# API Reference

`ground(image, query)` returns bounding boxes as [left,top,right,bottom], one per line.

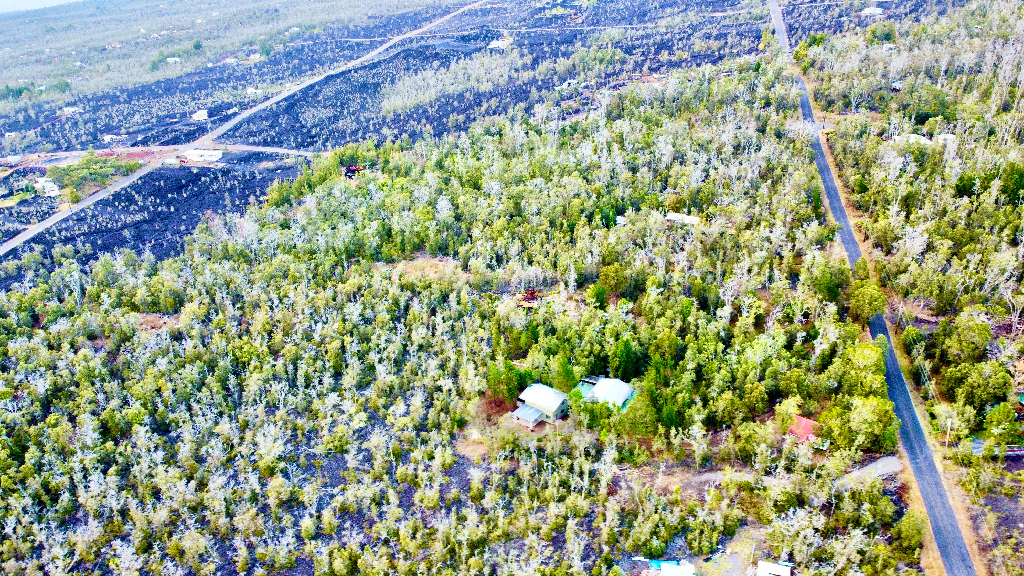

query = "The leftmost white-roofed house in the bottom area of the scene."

[506,380,575,429]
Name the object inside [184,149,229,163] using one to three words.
house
